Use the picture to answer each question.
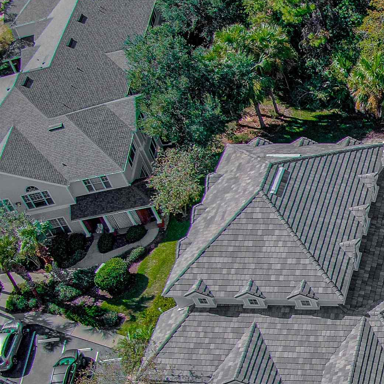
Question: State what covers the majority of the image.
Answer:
buildings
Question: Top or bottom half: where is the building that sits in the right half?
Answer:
bottom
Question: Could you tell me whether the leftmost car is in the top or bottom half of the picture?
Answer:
bottom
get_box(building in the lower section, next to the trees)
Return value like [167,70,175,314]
[126,131,384,384]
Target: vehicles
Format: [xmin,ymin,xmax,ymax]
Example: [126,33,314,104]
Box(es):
[0,319,33,381]
[39,346,91,384]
